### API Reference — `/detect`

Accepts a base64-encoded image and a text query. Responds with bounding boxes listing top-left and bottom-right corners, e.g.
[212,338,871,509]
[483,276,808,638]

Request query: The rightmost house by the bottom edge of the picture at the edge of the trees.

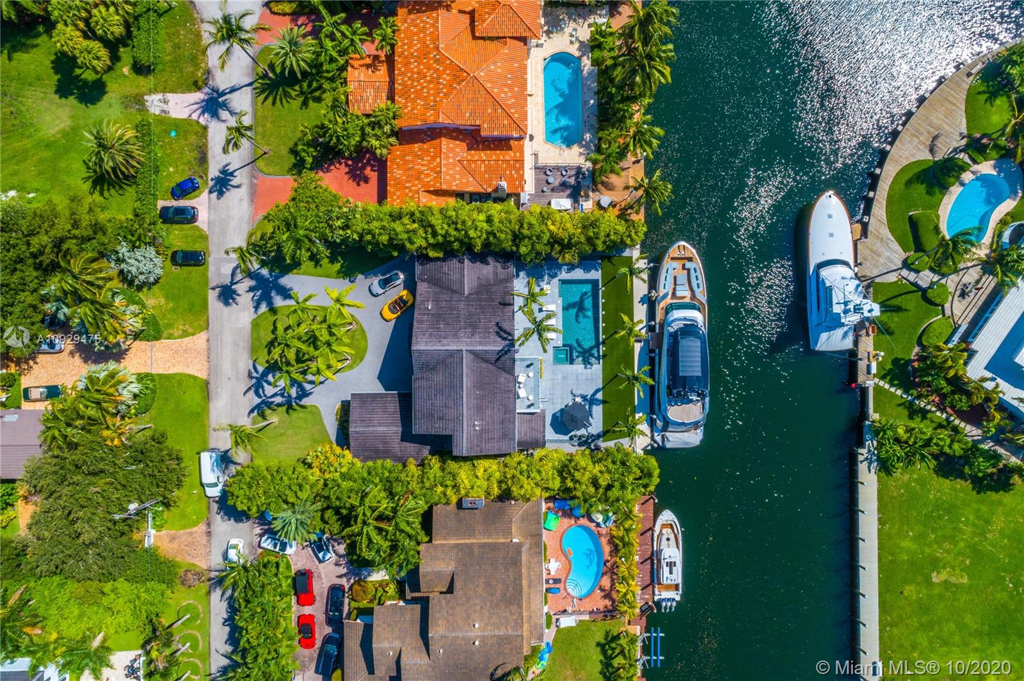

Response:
[344,491,543,681]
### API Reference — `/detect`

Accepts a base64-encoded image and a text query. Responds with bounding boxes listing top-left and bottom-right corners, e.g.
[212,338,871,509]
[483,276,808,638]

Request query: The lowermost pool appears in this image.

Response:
[559,522,606,609]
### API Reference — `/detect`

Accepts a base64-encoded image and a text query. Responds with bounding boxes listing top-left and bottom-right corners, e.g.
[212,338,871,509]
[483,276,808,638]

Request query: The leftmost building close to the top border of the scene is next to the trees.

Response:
[348,0,541,212]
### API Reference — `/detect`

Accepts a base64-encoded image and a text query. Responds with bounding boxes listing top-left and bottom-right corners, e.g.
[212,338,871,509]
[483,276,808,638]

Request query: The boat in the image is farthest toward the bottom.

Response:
[654,506,682,609]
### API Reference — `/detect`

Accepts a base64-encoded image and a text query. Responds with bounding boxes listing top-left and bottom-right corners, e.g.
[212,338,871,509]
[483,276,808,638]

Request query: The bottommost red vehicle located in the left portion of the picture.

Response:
[297,614,317,648]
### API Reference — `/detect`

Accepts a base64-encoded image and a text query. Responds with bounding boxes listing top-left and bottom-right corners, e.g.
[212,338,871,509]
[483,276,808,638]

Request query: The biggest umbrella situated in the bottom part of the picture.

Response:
[563,403,591,430]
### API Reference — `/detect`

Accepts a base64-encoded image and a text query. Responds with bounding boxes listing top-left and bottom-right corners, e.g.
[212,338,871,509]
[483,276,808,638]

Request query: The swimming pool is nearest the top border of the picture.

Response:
[542,48,585,155]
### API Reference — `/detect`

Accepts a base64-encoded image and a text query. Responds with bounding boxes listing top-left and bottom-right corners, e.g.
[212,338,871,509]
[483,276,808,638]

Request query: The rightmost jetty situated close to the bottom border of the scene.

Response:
[855,449,880,681]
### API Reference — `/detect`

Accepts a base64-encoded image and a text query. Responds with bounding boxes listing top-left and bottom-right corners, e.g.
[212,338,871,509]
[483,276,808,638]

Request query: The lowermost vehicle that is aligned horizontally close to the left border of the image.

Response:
[22,384,64,402]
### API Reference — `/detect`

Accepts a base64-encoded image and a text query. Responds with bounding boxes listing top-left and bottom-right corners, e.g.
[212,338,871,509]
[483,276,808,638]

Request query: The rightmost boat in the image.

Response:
[799,190,894,359]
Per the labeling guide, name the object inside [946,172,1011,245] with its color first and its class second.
blue swimming pool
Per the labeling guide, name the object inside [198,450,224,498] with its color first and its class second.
white vehicle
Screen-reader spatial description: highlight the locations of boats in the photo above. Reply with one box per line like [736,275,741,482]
[654,506,682,609]
[799,190,894,359]
[653,241,710,448]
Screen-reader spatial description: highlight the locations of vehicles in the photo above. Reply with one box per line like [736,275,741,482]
[294,568,314,605]
[198,450,224,498]
[315,629,342,677]
[325,584,346,627]
[297,614,317,648]
[259,534,296,557]
[29,336,68,354]
[169,176,203,201]
[309,536,336,565]
[367,269,407,297]
[224,536,244,567]
[378,291,415,321]
[22,384,64,402]
[172,249,206,266]
[161,205,201,223]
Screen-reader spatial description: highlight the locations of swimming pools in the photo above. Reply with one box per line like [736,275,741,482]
[553,347,570,365]
[557,278,602,366]
[559,522,606,609]
[542,48,585,155]
[946,172,1011,245]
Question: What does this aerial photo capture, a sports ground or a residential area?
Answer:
residential area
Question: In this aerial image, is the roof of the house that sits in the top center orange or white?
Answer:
orange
